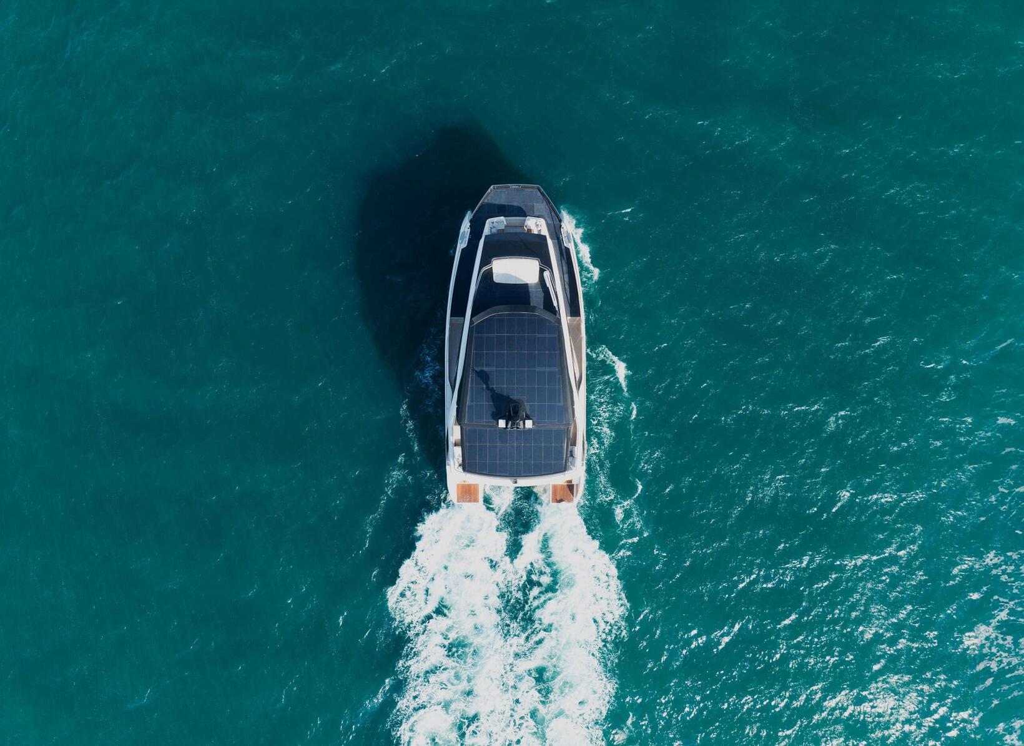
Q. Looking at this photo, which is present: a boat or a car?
boat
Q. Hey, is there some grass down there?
No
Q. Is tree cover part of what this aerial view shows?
No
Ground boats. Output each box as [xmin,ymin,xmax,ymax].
[446,183,586,503]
